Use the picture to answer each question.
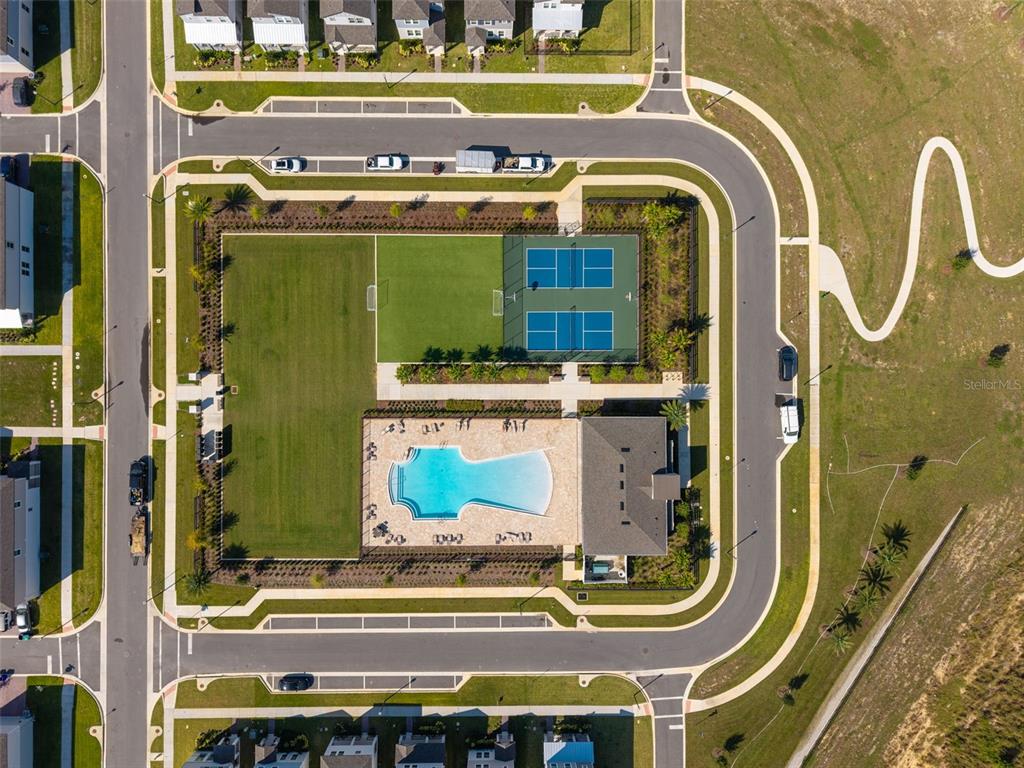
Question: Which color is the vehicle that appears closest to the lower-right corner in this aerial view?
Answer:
white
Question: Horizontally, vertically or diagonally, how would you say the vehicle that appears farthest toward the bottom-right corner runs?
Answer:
vertically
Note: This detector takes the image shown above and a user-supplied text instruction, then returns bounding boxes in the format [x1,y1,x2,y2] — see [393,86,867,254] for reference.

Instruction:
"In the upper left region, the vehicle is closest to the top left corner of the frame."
[11,77,29,106]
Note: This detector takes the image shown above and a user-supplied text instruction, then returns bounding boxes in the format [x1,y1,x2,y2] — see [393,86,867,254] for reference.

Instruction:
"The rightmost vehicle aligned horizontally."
[503,155,544,173]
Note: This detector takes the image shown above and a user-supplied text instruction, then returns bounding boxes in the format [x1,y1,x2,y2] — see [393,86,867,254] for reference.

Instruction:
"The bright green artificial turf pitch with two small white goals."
[376,234,503,363]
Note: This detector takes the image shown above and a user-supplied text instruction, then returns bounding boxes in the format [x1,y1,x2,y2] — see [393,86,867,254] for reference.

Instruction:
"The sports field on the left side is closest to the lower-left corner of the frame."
[221,234,376,559]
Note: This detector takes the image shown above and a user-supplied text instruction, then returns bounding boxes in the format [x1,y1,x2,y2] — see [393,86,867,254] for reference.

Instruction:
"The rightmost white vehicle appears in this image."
[779,405,800,444]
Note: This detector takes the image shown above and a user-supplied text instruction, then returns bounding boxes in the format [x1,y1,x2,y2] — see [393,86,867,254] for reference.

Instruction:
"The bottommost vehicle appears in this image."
[281,674,313,691]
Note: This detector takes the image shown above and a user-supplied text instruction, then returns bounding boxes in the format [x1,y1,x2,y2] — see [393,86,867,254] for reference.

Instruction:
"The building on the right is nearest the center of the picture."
[581,416,680,557]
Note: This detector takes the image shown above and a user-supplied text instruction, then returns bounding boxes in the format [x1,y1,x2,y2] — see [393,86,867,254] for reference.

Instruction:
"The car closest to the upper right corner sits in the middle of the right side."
[780,347,797,380]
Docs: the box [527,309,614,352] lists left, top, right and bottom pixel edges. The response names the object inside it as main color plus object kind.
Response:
blue sports court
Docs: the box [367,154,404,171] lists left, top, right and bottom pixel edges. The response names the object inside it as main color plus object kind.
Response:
white vehicle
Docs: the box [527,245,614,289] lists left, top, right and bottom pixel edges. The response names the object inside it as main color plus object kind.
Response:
blue sports court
